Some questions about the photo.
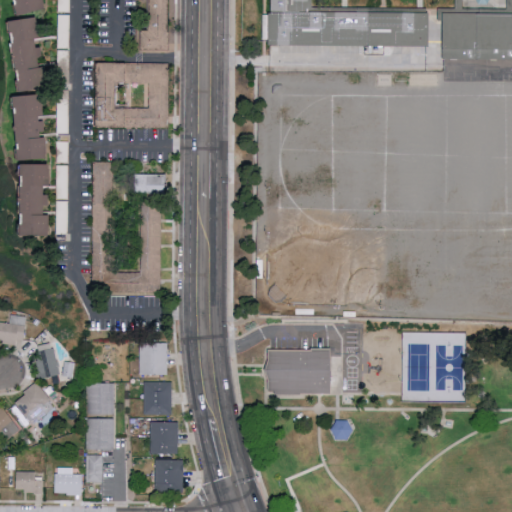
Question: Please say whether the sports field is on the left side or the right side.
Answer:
right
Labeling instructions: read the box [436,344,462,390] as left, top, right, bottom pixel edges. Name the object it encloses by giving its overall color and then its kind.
blue basketball court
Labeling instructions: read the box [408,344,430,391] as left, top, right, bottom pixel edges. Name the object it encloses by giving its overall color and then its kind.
blue tennis court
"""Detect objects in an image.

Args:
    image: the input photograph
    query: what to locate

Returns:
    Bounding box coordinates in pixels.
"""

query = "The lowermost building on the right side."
[331,420,354,441]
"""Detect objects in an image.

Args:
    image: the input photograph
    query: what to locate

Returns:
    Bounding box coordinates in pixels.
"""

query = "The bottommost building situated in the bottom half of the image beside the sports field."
[264,348,330,395]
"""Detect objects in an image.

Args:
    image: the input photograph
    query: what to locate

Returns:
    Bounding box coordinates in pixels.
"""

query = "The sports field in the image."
[258,71,512,320]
